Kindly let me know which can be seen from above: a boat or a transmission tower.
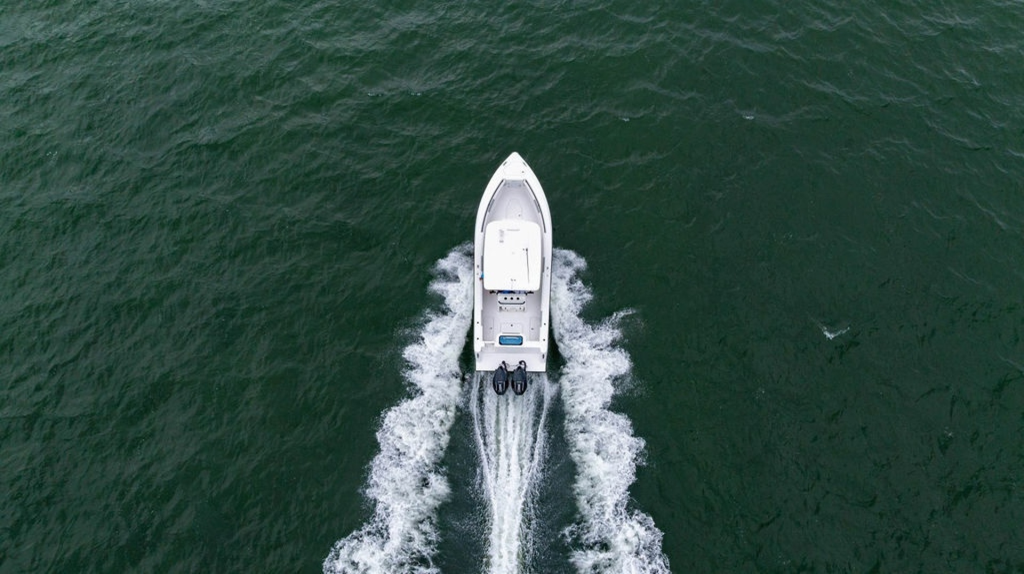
boat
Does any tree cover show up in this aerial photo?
No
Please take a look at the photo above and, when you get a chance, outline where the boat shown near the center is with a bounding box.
[472,151,553,398]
